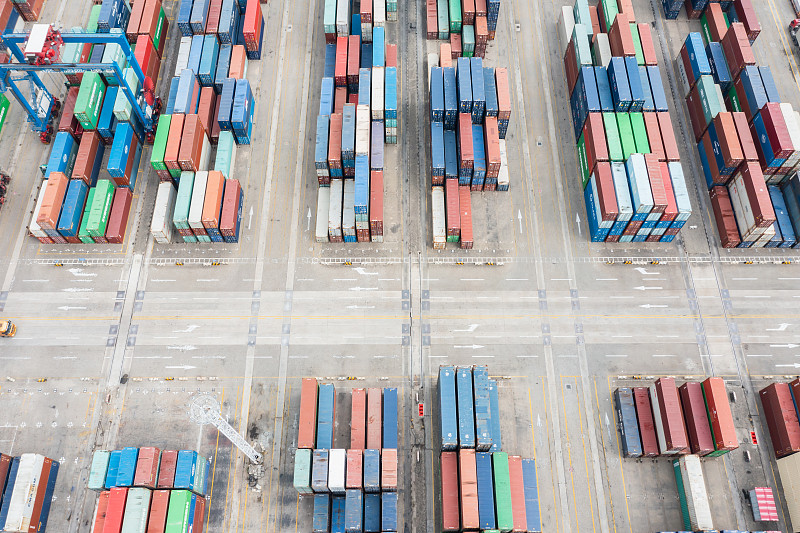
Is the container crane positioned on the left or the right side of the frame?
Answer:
left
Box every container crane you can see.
[0,24,161,144]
